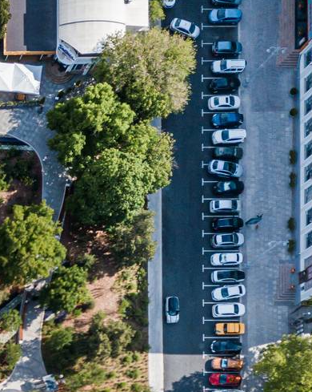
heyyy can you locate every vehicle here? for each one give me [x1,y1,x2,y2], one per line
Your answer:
[160,0,175,18]
[211,215,244,231]
[211,285,245,300]
[210,251,243,266]
[211,39,243,55]
[215,320,245,336]
[212,232,242,248]
[209,7,242,25]
[211,160,240,176]
[213,0,242,8]
[211,180,244,195]
[212,58,245,74]
[211,110,244,128]
[212,127,245,144]
[213,268,243,283]
[209,371,242,386]
[211,302,244,318]
[208,94,240,109]
[209,197,242,214]
[165,295,182,324]
[213,144,243,161]
[169,15,201,40]
[209,76,242,93]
